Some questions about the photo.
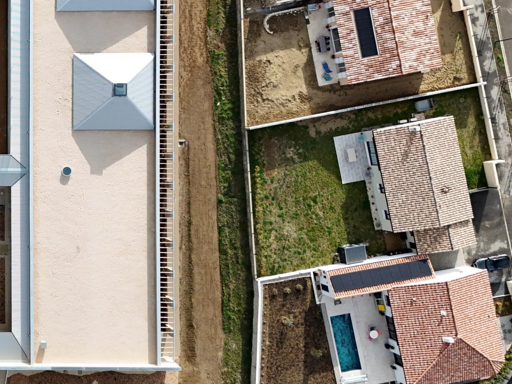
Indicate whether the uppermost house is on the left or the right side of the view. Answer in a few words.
right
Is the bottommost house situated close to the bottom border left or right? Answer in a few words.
right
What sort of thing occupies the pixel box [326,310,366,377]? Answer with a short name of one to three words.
swimming pool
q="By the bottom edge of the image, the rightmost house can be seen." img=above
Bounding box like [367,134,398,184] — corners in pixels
[319,254,506,384]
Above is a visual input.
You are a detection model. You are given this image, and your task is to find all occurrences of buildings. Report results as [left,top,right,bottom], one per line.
[319,254,506,384]
[364,116,477,254]
[0,0,181,370]
[324,0,442,85]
